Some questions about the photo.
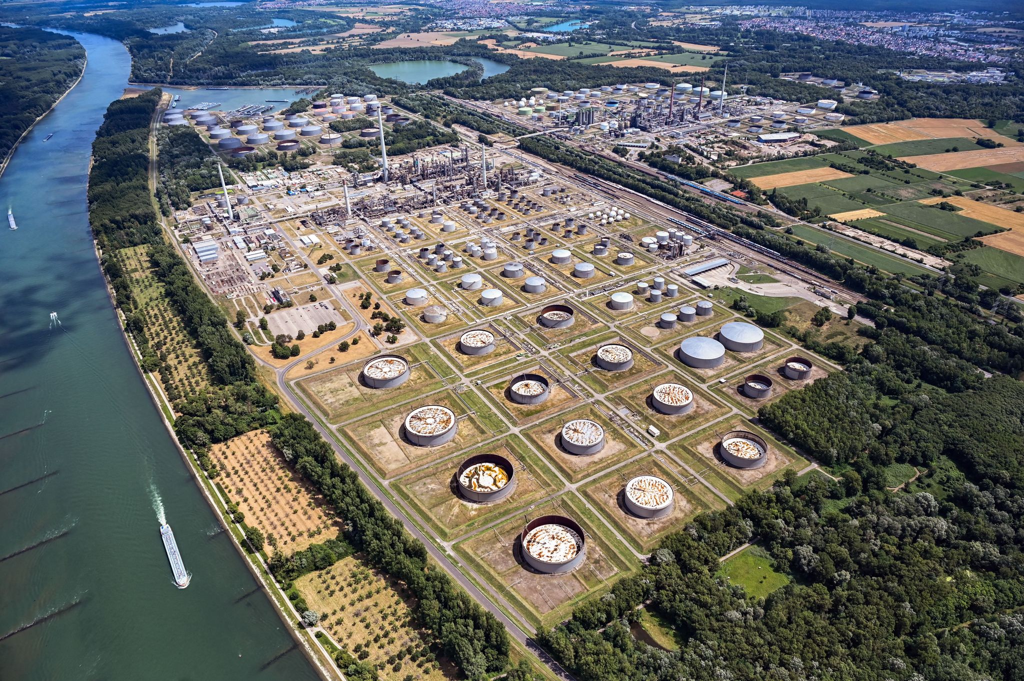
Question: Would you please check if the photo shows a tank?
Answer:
Yes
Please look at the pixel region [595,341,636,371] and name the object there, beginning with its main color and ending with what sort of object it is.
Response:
white storage tank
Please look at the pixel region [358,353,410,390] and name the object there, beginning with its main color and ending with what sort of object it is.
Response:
white storage tank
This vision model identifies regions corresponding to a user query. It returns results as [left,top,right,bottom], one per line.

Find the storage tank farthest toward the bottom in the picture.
[519,514,589,576]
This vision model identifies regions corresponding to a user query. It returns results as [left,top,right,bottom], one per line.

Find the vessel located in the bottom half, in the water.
[161,524,188,588]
